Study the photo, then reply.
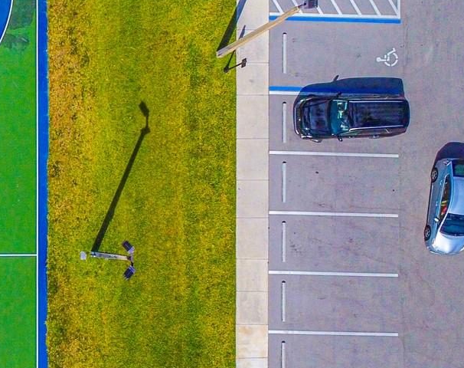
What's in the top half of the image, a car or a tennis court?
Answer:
car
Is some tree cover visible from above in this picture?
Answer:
No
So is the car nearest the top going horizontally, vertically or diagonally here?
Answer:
horizontally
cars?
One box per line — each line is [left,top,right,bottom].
[426,158,464,254]
[292,93,407,143]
